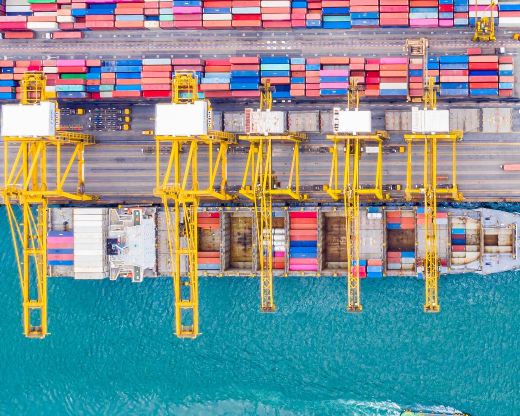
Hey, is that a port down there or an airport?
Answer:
port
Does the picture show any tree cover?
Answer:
No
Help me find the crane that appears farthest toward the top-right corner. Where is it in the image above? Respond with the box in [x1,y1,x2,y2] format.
[474,0,502,44]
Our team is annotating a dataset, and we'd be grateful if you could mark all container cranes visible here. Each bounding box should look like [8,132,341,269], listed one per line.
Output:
[328,71,402,313]
[407,40,436,107]
[242,71,321,313]
[474,0,502,44]
[402,71,476,313]
[2,71,100,338]
[156,71,244,338]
